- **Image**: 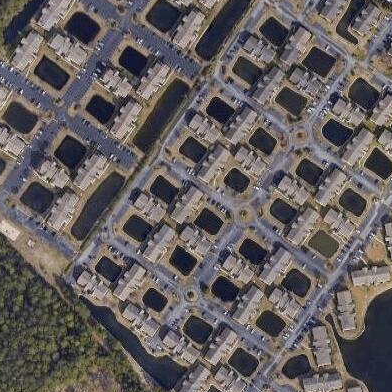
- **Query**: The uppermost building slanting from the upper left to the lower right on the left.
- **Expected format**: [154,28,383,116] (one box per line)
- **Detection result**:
[50,31,87,66]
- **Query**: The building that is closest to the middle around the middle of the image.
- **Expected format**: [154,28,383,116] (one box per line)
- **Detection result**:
[170,185,203,223]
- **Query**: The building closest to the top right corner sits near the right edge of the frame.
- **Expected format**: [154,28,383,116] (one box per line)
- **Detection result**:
[351,0,383,37]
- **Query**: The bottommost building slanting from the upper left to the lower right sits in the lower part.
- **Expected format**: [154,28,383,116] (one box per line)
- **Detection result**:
[211,363,248,392]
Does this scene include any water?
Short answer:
Yes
